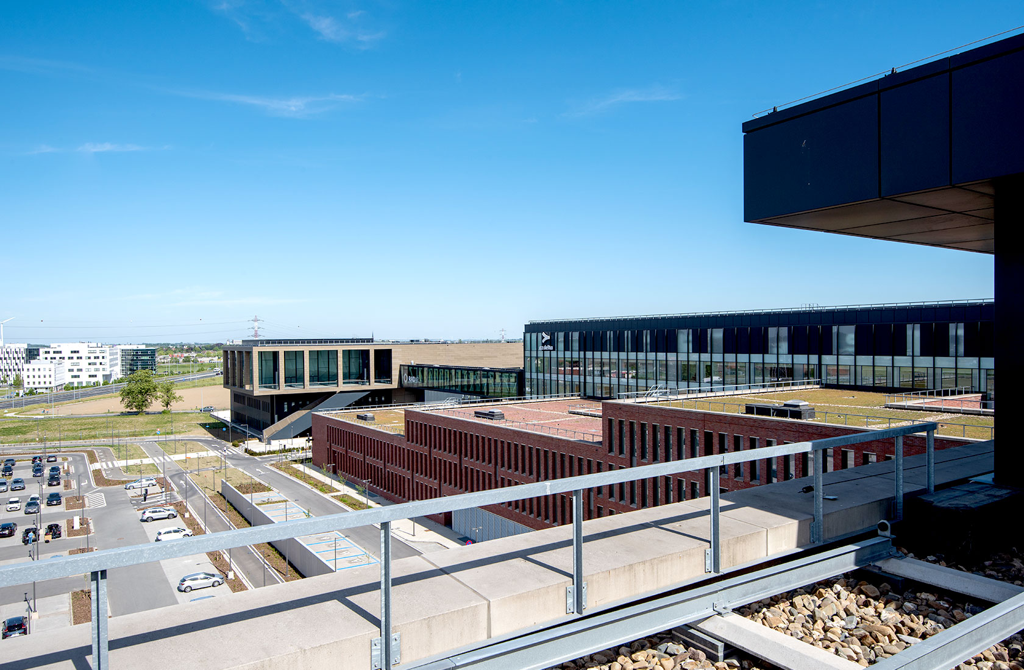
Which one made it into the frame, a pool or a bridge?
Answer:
bridge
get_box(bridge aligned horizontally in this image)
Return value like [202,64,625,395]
[399,360,527,405]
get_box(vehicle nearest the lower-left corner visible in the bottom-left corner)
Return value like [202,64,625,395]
[0,606,31,636]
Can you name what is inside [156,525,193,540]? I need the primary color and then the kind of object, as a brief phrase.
white car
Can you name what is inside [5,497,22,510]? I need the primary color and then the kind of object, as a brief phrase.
white vehicle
